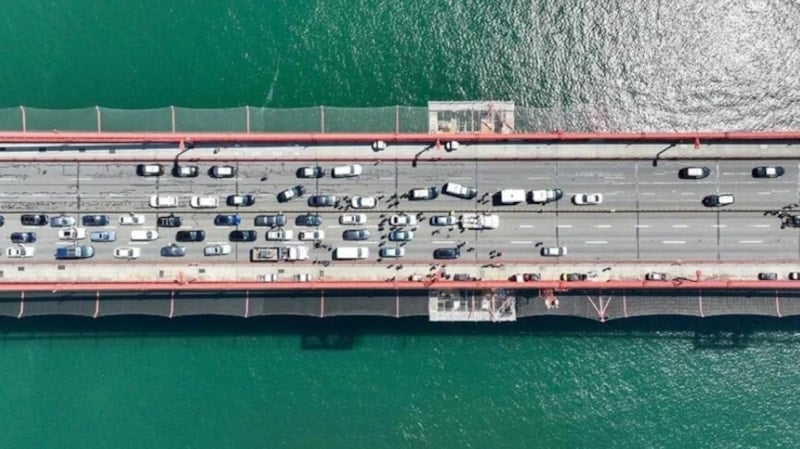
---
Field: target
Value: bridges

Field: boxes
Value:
[0,106,800,322]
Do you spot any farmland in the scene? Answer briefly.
No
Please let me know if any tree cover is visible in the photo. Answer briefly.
No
